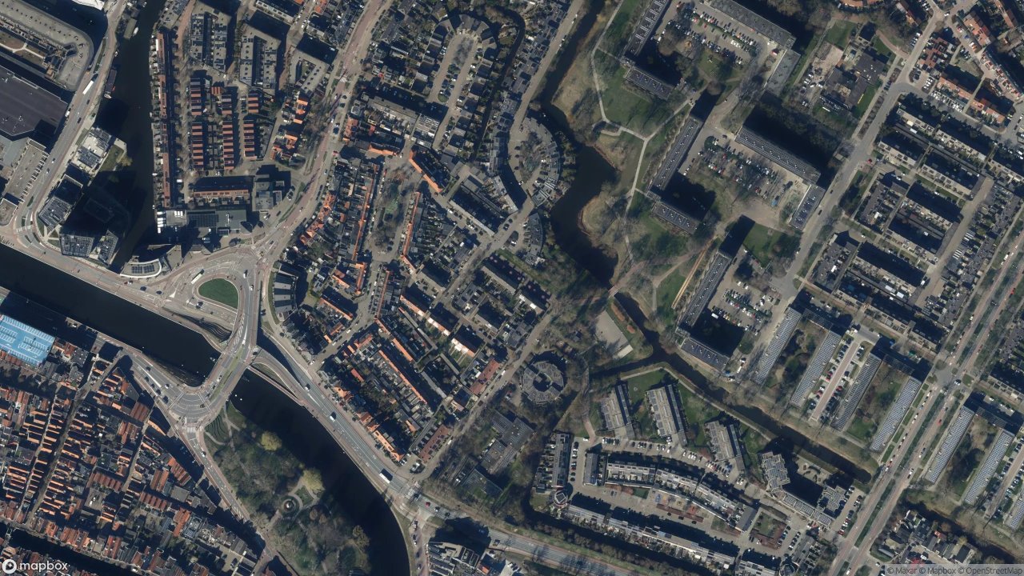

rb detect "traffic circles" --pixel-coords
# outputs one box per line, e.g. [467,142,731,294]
[161,257,256,397]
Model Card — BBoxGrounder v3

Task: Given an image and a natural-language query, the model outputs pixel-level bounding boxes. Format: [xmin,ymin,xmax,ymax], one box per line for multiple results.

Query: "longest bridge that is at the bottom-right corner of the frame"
[856,469,917,514]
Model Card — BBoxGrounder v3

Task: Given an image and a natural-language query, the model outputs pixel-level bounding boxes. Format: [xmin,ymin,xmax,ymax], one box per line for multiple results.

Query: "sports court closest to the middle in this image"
[594,311,632,359]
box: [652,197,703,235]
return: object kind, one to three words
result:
building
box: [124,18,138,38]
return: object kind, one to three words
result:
boat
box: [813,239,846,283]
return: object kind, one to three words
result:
building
